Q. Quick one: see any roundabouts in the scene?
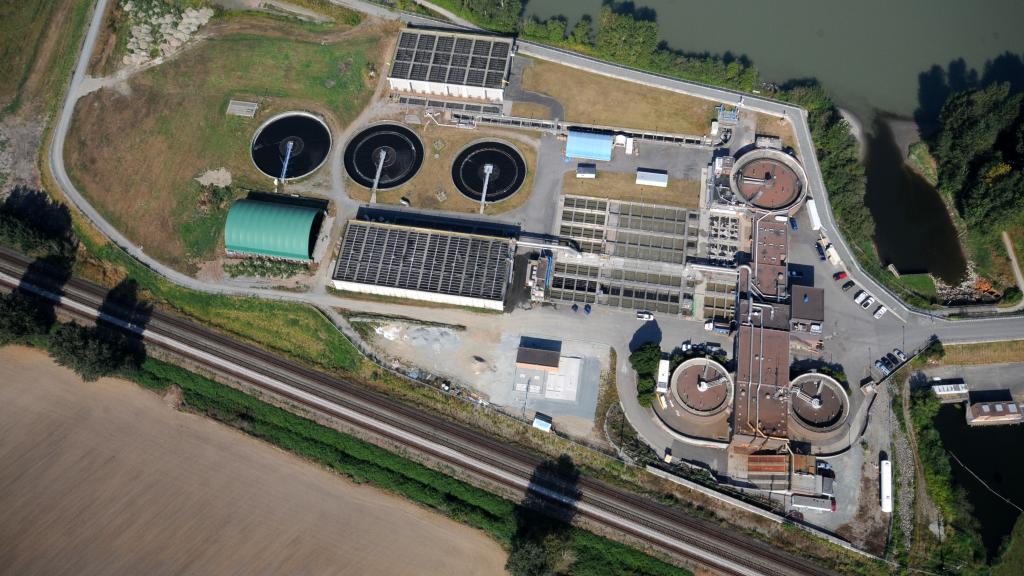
No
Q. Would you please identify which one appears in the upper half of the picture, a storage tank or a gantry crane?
storage tank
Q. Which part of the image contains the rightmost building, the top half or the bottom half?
bottom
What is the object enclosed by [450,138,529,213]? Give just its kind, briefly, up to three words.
storage tank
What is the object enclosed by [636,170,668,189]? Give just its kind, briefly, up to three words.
shed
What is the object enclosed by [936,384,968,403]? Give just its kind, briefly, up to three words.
building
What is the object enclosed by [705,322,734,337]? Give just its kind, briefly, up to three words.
vehicle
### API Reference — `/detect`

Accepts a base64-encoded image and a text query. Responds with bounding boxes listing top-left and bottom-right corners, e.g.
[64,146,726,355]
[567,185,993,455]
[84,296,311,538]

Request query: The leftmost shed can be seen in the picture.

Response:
[224,200,327,266]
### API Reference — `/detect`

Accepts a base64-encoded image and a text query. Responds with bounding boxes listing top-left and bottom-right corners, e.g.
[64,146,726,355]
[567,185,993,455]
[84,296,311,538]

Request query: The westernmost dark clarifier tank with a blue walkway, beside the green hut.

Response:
[250,112,333,183]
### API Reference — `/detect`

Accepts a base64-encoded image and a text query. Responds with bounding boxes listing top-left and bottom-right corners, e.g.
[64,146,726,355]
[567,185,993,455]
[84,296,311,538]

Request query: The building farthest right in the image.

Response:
[966,390,1024,425]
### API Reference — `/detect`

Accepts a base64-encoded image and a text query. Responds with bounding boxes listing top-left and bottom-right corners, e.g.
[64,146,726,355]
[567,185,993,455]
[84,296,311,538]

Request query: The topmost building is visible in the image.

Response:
[387,28,517,103]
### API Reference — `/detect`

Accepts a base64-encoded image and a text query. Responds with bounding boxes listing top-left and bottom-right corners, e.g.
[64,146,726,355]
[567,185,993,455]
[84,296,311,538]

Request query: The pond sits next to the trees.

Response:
[937,403,1024,559]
